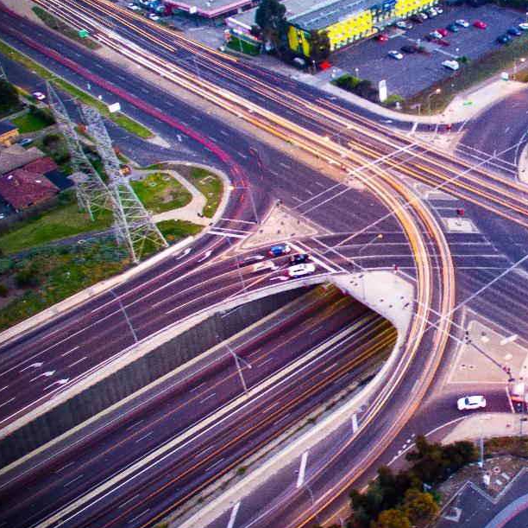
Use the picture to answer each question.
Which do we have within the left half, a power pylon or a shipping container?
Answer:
power pylon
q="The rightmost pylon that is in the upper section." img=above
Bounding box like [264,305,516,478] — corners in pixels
[76,100,173,262]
